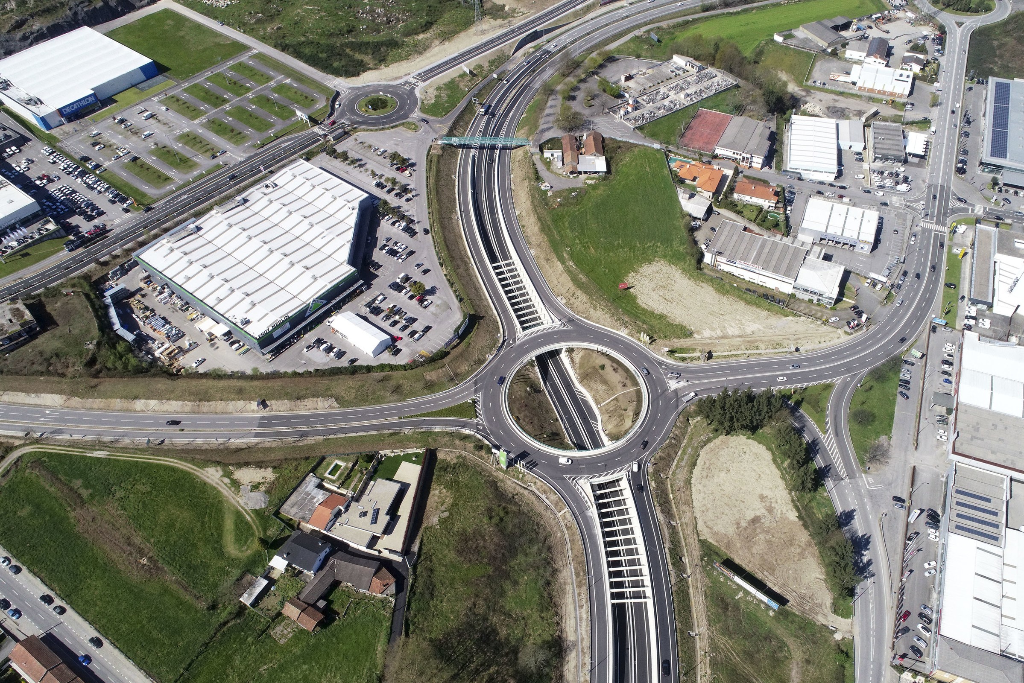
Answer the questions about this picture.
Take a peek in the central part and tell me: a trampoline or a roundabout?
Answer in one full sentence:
What appears in the central part is a roundabout.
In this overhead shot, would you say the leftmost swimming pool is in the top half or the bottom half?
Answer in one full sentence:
The bottom half of the photo is where the leftmost swimming pool is.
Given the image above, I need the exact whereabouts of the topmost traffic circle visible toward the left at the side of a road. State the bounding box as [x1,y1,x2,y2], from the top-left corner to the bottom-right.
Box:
[337,84,418,126]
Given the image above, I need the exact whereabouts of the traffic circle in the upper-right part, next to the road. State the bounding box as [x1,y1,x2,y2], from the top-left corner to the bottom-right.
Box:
[908,0,1013,22]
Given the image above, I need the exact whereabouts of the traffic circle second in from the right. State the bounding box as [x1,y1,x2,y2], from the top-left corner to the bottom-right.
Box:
[476,325,676,479]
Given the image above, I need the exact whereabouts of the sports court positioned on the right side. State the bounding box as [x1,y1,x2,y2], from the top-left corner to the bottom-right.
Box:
[680,108,732,152]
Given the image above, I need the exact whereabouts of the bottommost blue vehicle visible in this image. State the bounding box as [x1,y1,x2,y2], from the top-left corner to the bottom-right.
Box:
[77,653,93,667]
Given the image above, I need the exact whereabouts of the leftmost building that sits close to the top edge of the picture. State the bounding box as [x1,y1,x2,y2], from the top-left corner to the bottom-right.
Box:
[0,26,157,130]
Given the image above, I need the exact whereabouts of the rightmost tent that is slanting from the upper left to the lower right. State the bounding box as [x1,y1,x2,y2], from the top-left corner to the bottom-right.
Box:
[326,311,393,360]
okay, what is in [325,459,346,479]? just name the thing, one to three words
swimming pool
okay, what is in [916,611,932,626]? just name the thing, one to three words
car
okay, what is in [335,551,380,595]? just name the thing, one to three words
barn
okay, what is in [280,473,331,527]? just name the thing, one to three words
shed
